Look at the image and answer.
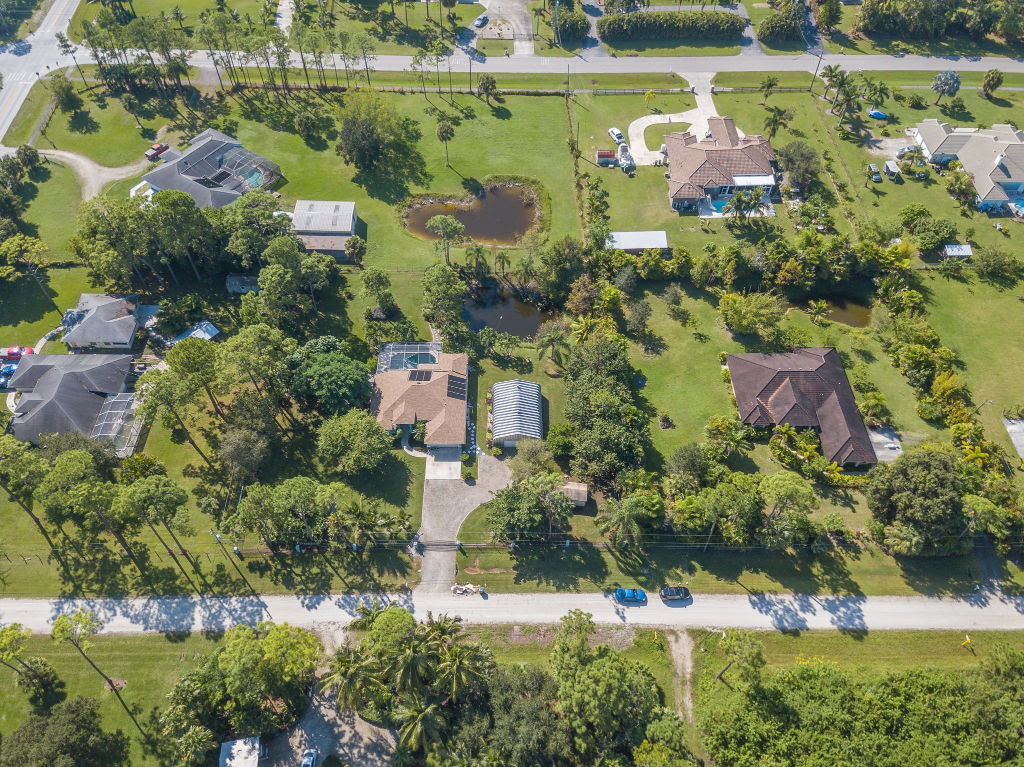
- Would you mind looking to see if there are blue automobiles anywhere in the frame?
Yes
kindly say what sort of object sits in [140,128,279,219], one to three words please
house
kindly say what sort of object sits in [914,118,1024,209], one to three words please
house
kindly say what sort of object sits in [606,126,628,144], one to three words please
vehicle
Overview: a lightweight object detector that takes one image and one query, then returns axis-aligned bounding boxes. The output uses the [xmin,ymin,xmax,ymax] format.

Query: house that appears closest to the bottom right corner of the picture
[726,348,877,469]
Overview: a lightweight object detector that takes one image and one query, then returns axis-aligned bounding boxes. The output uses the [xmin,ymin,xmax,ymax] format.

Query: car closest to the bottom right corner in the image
[659,586,694,603]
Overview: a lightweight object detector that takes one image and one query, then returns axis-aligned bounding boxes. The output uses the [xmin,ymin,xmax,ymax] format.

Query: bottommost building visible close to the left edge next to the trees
[6,355,145,448]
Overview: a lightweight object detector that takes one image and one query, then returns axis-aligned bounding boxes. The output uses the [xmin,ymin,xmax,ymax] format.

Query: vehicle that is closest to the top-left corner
[142,144,170,159]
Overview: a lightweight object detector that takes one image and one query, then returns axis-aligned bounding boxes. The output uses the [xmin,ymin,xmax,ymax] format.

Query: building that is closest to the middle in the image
[491,380,544,448]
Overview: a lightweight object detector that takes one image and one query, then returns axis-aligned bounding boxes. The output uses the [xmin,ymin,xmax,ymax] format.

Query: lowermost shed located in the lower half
[560,483,587,508]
